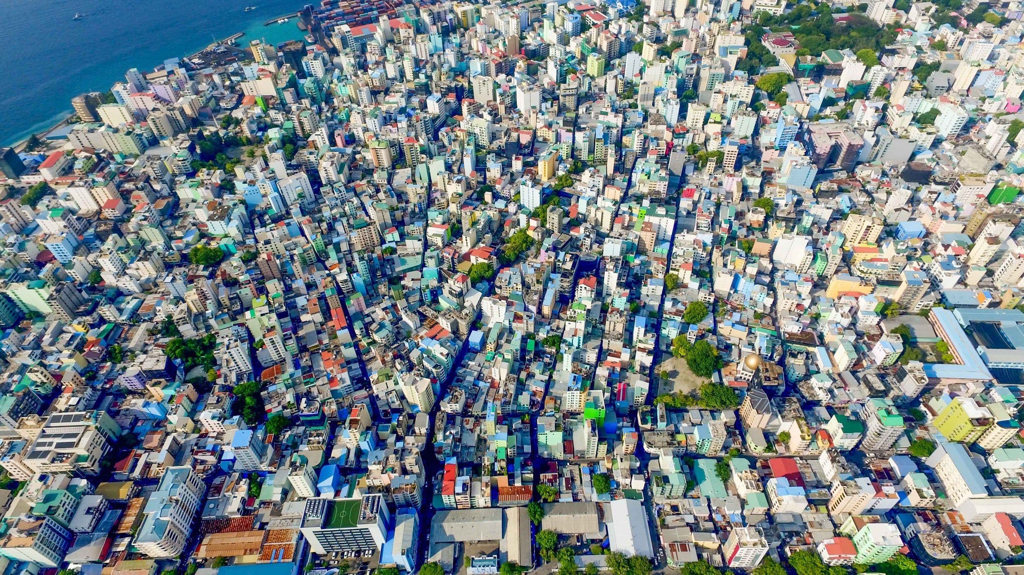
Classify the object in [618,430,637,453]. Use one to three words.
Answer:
building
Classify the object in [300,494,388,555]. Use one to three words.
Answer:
building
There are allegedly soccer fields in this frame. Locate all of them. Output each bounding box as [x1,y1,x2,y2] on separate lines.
[323,498,362,526]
